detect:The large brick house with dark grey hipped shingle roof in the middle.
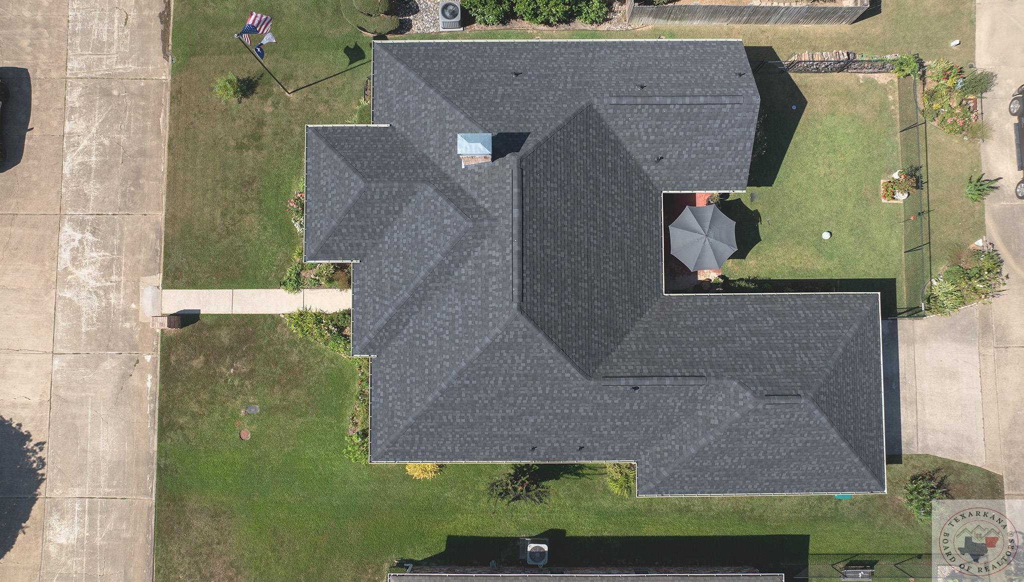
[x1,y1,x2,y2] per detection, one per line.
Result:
[303,40,887,496]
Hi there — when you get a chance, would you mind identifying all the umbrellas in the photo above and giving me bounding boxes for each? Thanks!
[669,204,737,272]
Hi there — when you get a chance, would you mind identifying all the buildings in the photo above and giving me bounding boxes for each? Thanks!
[388,559,785,582]
[303,40,887,496]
